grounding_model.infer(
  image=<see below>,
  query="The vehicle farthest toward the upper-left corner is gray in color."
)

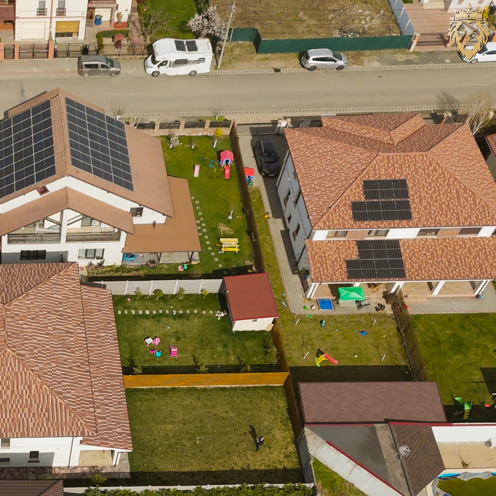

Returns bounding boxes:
[80,52,122,75]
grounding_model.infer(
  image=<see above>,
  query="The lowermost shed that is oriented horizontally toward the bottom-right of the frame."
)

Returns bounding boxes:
[294,383,447,436]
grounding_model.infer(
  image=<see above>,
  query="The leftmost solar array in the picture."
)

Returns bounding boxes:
[0,102,58,196]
